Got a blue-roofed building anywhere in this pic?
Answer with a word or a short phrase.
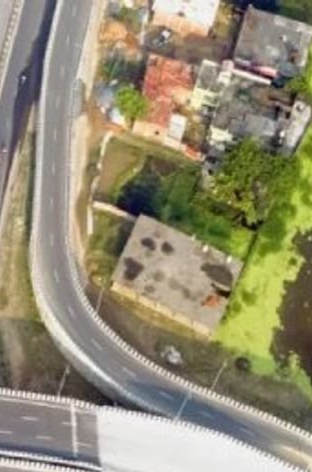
No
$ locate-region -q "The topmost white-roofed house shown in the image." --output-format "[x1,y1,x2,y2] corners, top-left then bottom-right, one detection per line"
[152,0,218,41]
